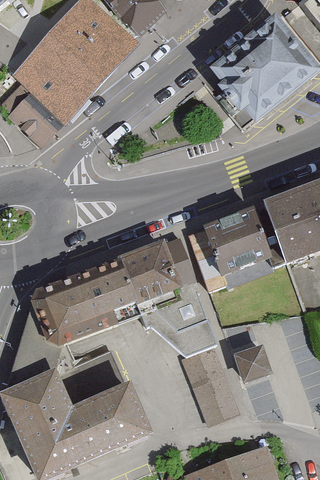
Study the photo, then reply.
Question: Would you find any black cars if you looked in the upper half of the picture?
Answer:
Yes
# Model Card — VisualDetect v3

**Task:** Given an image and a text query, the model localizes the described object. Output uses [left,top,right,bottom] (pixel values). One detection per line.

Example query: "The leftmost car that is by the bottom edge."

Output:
[289,461,304,480]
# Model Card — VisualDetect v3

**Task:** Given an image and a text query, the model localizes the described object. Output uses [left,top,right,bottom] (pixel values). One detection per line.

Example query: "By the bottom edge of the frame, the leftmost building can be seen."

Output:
[0,368,154,480]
